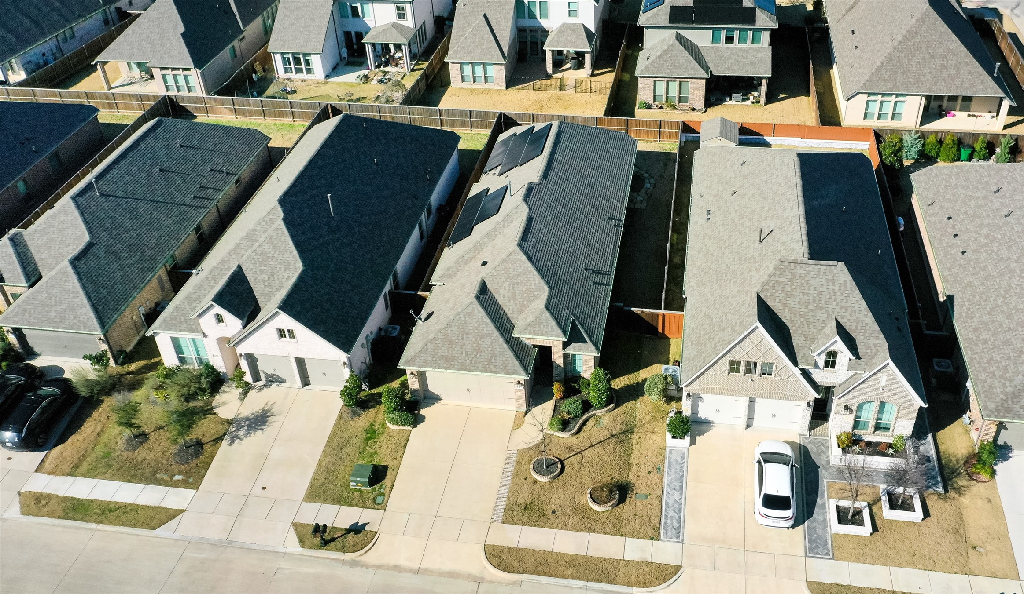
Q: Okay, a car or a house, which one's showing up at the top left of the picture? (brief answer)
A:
house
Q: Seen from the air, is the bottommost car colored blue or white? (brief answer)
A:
white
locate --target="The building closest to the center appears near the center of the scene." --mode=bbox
[396,120,639,414]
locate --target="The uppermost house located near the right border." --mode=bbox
[822,0,1017,132]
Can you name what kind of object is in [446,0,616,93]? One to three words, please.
house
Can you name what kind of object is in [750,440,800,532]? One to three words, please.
car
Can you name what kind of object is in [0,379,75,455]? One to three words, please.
car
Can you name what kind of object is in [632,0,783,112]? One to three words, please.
house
